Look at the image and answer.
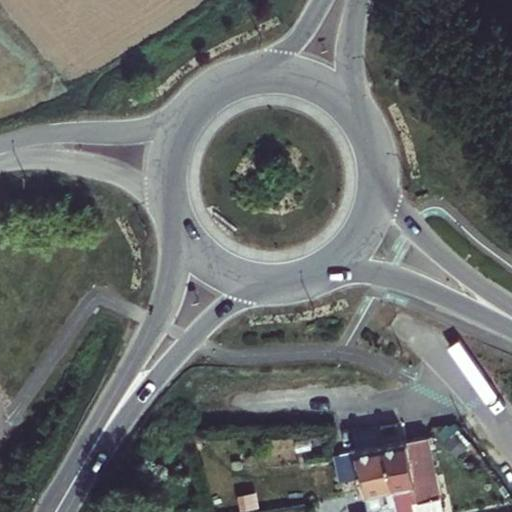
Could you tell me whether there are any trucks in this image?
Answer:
Yes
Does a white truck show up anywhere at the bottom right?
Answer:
Yes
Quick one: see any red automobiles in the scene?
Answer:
No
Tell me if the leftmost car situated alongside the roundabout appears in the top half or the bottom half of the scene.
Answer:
bottom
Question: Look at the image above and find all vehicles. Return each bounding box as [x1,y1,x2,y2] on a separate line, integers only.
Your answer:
[329,270,352,281]
[308,400,330,410]
[214,299,234,318]
[90,452,108,475]
[501,465,512,488]
[404,214,422,237]
[342,426,353,449]
[184,218,200,240]
[448,342,506,416]
[138,380,157,402]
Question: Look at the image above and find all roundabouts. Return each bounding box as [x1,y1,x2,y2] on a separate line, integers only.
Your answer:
[62,0,480,370]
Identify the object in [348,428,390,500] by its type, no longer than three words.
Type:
house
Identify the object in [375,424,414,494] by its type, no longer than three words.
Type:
house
